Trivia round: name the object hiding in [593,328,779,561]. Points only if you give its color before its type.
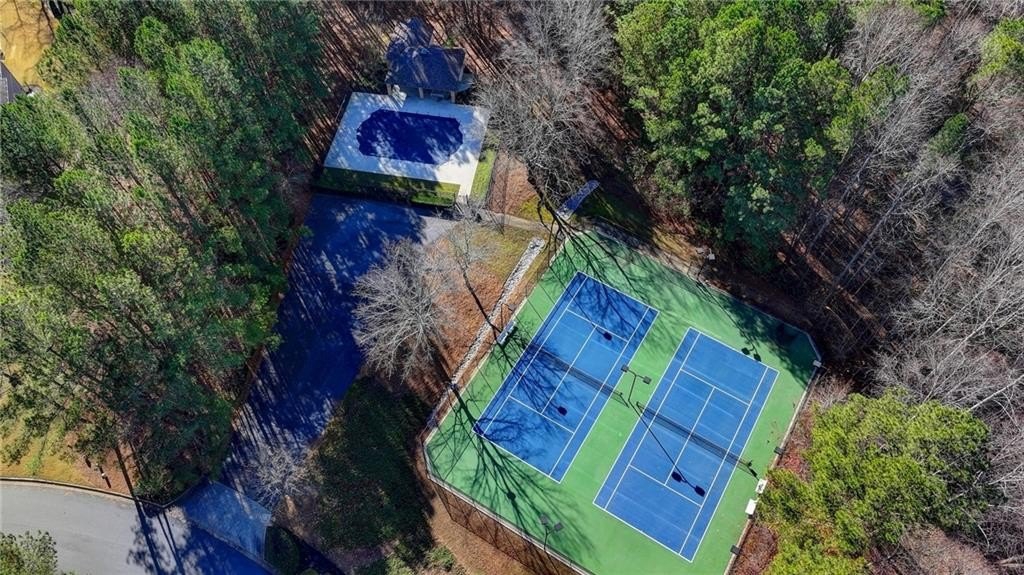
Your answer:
blue tennis court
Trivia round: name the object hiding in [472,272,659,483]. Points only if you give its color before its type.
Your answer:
blue tennis court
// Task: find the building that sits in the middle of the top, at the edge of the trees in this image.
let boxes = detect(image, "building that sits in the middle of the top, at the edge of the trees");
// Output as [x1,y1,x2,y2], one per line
[384,18,465,102]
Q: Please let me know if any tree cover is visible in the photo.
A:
Yes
